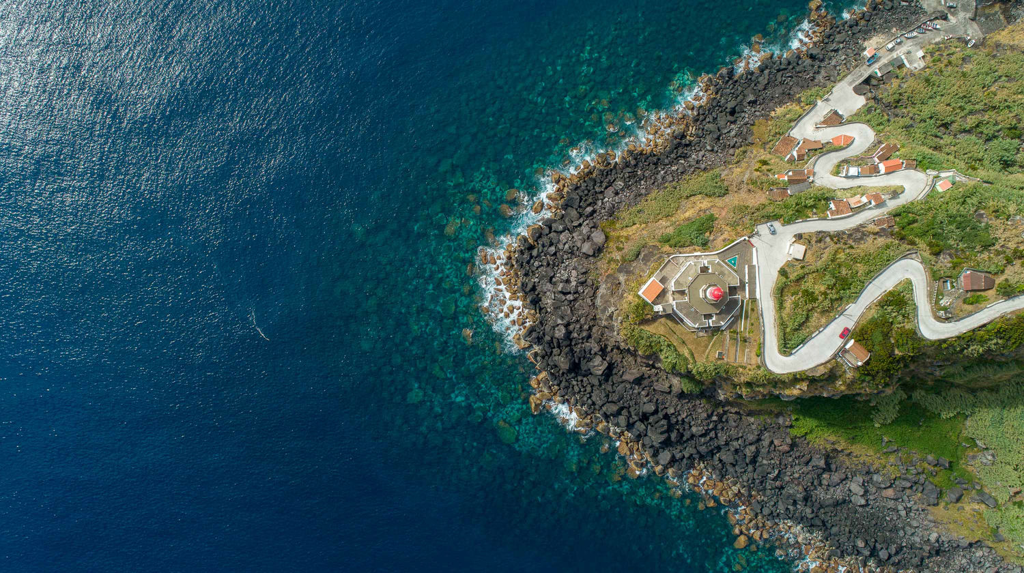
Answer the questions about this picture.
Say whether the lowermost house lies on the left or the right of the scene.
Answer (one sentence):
The lowermost house is on the right side of the image.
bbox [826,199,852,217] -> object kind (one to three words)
house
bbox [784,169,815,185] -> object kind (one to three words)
house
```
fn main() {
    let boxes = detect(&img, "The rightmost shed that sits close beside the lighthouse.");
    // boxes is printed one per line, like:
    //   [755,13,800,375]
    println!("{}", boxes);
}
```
[745,265,757,298]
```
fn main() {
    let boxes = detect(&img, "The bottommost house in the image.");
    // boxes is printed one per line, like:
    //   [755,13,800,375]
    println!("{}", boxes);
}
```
[837,341,871,367]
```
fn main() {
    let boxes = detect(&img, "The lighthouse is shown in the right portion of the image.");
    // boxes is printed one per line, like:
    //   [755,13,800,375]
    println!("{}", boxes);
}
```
[670,259,741,327]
